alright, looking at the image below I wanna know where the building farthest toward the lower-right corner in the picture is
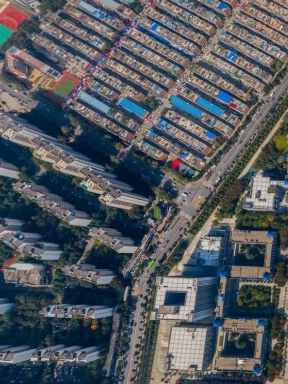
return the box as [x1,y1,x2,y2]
[213,317,268,375]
